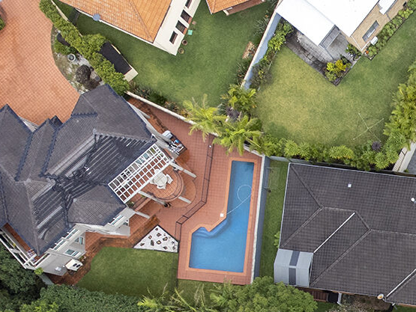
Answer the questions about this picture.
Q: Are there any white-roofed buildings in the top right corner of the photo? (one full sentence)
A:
Yes, you'll find a white-roofed building in the top right corner of the photo.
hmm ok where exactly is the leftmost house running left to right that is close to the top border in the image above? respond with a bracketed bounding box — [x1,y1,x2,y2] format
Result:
[66,0,200,57]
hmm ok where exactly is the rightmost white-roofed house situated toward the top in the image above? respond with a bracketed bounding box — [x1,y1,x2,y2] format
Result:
[272,0,393,54]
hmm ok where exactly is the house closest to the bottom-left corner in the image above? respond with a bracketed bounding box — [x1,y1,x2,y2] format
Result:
[0,82,173,273]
